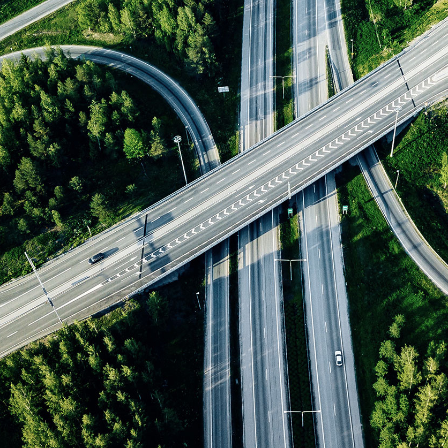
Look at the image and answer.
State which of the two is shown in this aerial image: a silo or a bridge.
bridge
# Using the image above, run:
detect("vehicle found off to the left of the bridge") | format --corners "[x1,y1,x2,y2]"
[86,250,103,264]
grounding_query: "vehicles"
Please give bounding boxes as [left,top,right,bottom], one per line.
[333,350,343,367]
[86,250,103,264]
